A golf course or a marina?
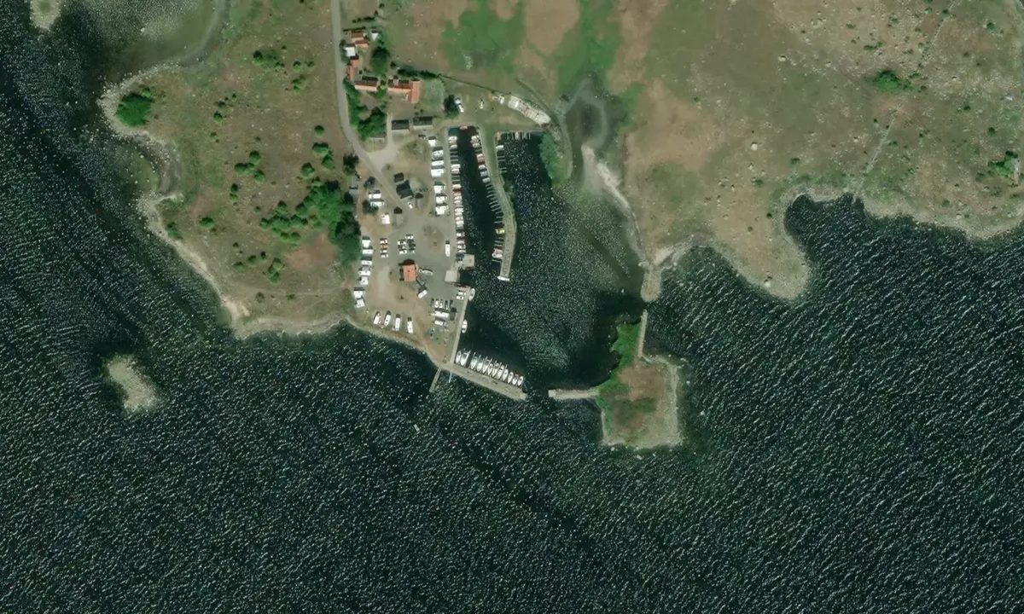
marina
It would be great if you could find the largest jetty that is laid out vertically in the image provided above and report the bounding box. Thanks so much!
[478,125,520,278]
